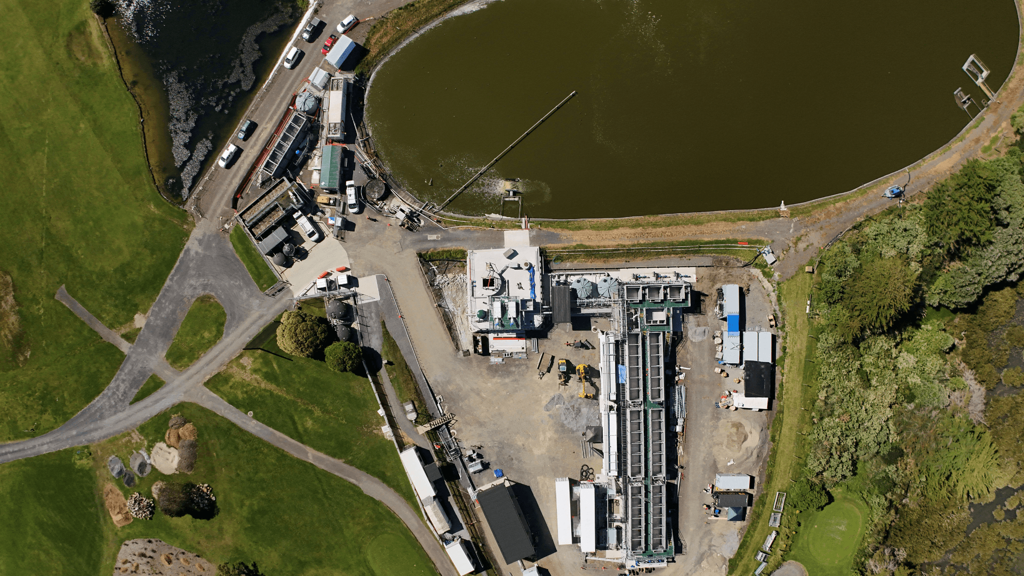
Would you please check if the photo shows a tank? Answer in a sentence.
Yes, the frame does contain a tank.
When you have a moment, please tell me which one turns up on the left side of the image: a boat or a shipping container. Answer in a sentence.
The one visible on the left side of the image is a shipping container.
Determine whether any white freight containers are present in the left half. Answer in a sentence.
Yes, in the left half there is a white freight container.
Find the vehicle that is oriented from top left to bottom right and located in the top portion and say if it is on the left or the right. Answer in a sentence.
The vehicle that is oriented from top left to bottom right and located in the top portion appears in the left half of the scene.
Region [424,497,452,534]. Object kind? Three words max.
shed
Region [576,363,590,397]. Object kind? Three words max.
work vehicle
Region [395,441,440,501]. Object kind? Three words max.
building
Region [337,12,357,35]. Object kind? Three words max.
car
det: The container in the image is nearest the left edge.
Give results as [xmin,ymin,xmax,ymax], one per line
[326,34,355,69]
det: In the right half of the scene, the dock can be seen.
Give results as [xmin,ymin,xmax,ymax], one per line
[961,55,999,99]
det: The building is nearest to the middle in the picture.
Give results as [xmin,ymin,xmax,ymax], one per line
[388,198,423,237]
